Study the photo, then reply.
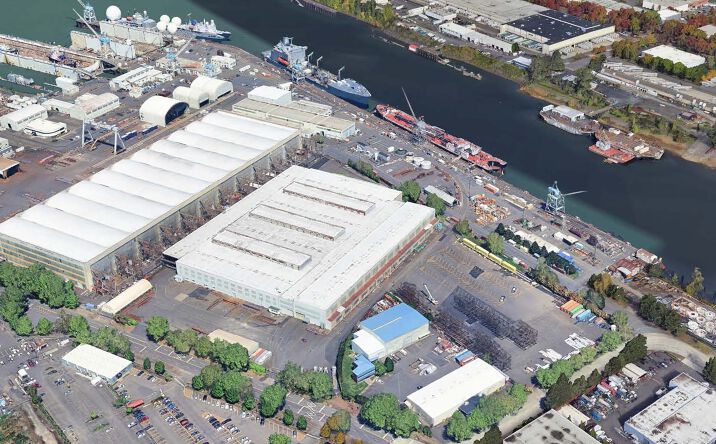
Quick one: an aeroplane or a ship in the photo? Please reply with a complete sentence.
Of the two, only a ship appears.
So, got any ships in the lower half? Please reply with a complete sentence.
No, in the lower half there is no ship.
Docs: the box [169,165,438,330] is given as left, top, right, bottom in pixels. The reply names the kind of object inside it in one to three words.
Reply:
building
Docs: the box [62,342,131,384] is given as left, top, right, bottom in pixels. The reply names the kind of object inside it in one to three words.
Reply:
building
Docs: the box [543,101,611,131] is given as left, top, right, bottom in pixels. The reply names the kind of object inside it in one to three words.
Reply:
ship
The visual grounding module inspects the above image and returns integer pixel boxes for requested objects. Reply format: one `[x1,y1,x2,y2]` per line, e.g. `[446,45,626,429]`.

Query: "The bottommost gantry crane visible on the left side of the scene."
[76,117,126,155]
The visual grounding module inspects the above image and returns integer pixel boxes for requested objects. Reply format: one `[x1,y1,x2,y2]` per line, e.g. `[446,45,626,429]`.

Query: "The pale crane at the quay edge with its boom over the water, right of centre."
[544,175,590,220]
